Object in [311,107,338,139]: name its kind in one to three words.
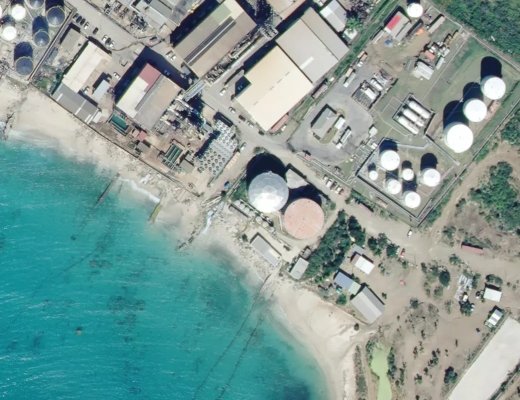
building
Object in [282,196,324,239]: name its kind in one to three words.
storage tank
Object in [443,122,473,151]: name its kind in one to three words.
storage tank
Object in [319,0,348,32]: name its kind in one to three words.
shed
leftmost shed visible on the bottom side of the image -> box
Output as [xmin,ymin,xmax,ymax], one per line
[250,234,282,266]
